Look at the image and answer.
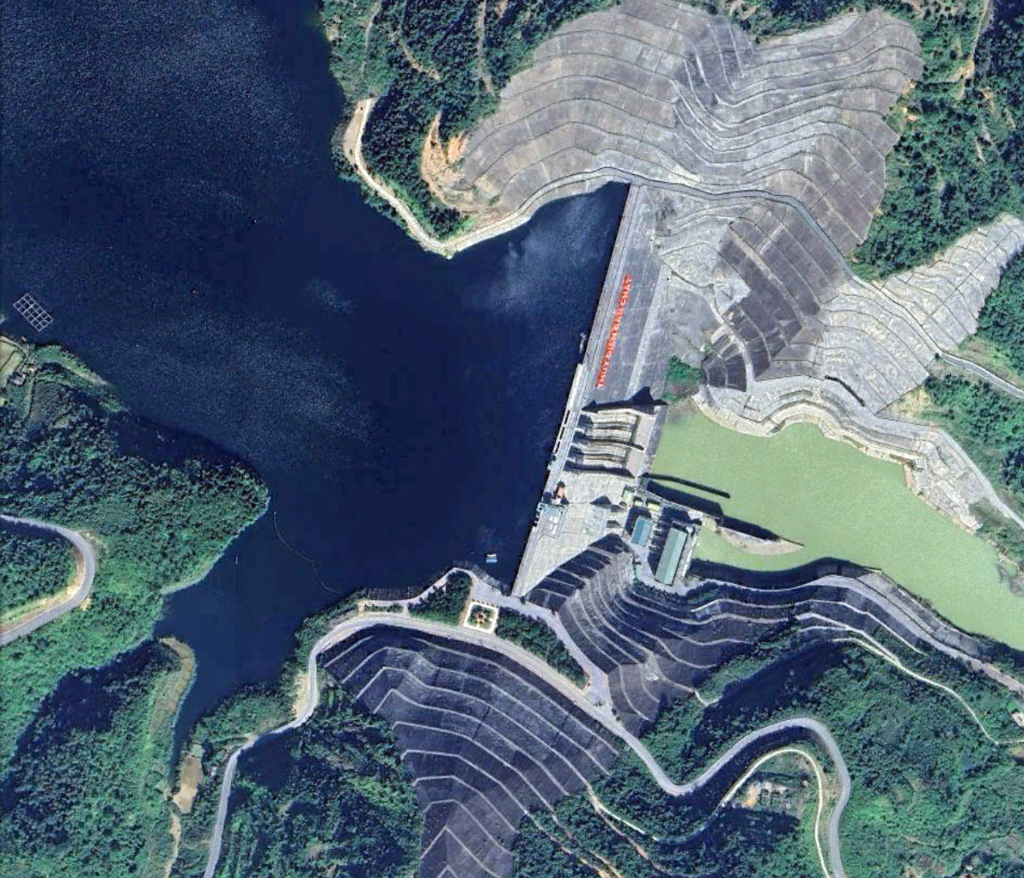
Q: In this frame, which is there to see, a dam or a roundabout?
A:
dam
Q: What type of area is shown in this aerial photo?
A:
port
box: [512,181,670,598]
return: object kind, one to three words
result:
dam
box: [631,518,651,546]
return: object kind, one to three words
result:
building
